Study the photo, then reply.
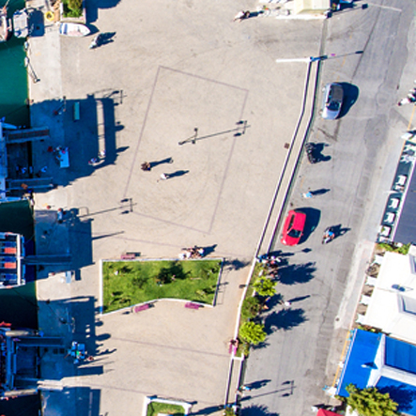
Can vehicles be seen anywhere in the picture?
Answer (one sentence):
Yes, a vehicle is visible in the scene.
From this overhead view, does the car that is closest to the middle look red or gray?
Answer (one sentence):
The color of the car that is closest to the middle is red.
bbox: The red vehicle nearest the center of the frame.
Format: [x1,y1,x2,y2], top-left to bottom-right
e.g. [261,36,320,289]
[279,209,306,246]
